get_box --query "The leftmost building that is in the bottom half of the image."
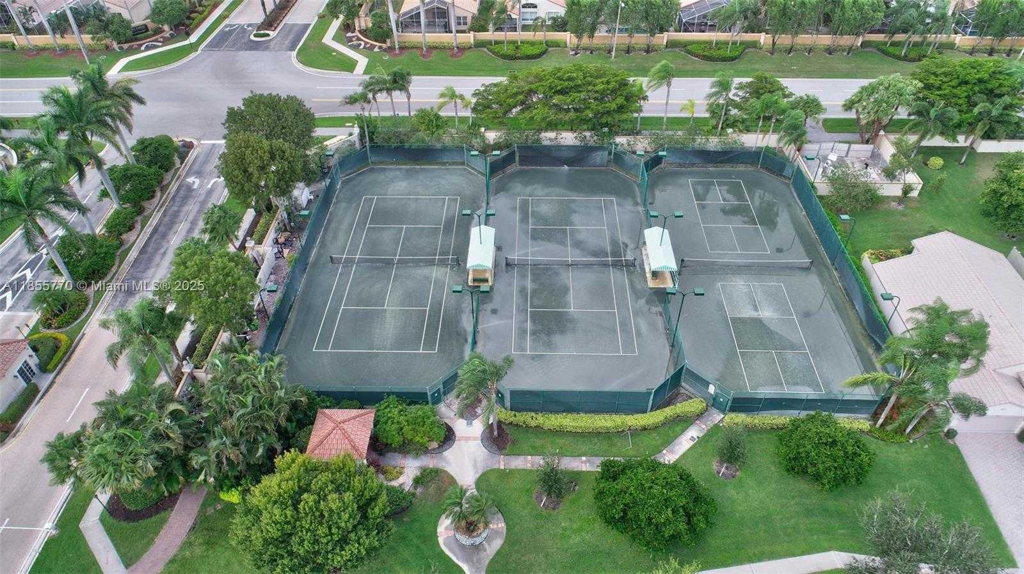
[0,339,37,412]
